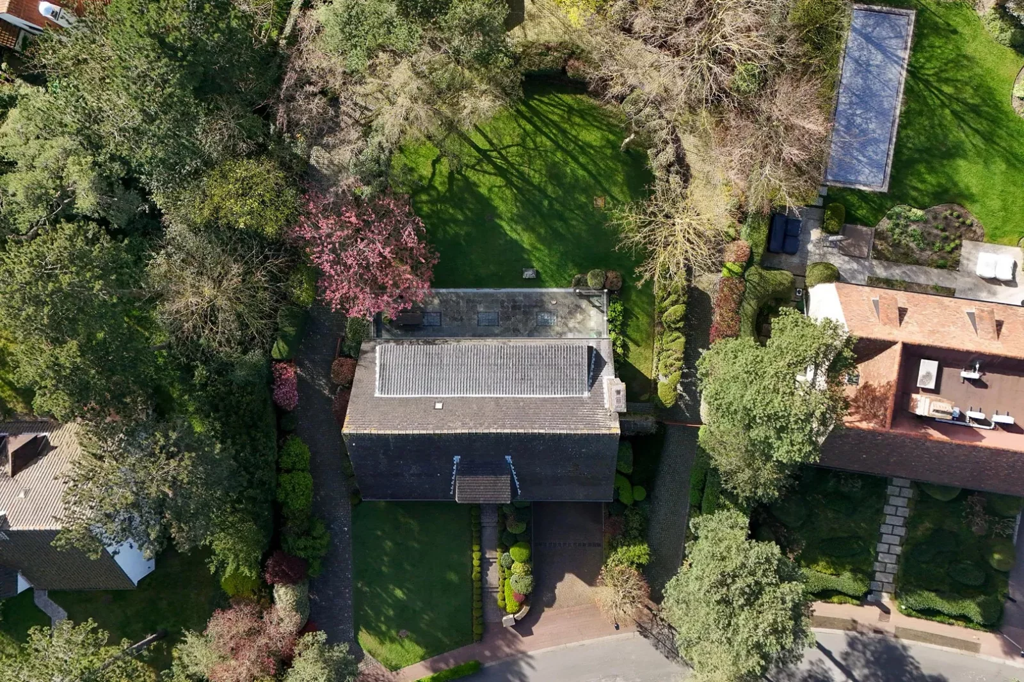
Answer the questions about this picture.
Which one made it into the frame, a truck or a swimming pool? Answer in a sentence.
This aerial view contains a swimming pool.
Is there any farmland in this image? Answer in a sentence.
No, the scene doesn't show any farmland.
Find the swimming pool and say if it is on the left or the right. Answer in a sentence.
It is on the right.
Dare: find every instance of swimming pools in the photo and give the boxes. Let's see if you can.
[823,5,915,192]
